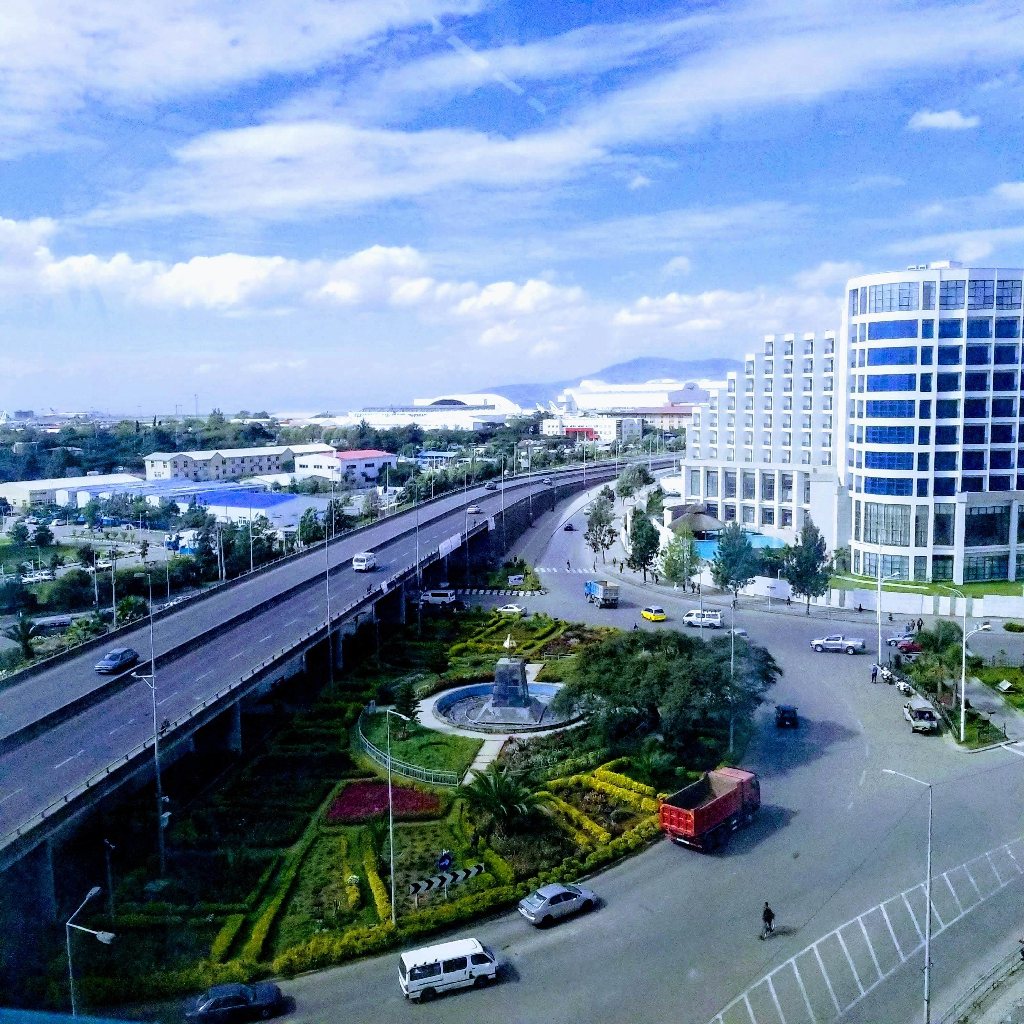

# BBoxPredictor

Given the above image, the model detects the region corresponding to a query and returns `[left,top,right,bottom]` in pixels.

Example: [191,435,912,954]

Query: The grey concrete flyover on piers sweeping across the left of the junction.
[0,457,676,908]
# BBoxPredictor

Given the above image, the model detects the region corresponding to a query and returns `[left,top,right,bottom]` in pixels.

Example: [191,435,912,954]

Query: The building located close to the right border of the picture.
[667,264,1024,583]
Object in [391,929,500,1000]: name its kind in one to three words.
vehicle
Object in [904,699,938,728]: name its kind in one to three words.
truck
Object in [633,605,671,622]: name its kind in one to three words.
car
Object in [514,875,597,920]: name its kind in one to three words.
car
